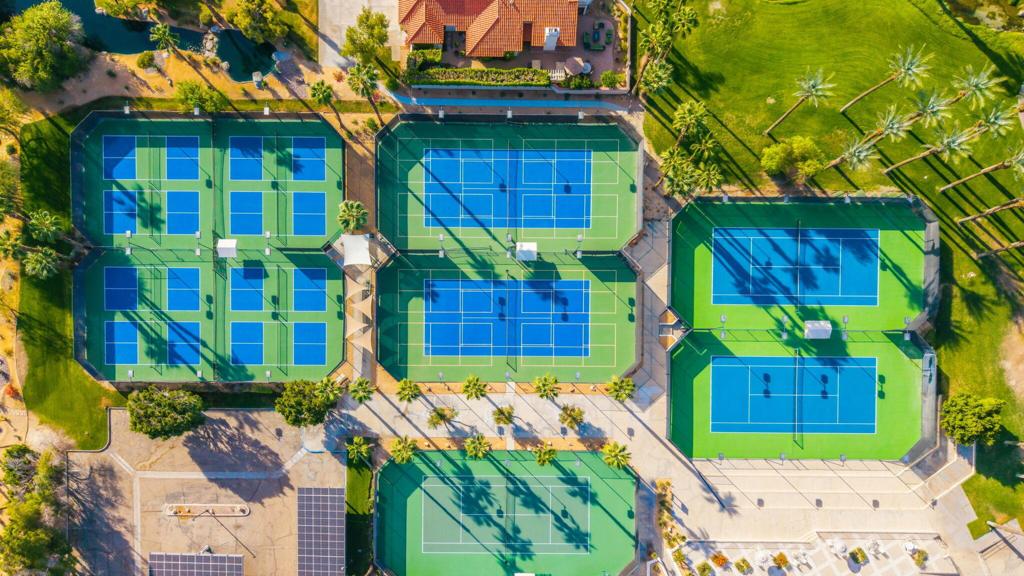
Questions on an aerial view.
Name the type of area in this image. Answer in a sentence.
It's a sports ground.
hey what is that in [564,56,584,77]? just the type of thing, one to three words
umbrella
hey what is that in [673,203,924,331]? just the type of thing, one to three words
tennis court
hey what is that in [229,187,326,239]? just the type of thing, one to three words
sports court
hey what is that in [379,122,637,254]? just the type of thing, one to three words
tennis court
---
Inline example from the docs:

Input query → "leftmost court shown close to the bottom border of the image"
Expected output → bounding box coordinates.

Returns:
[377,449,636,576]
